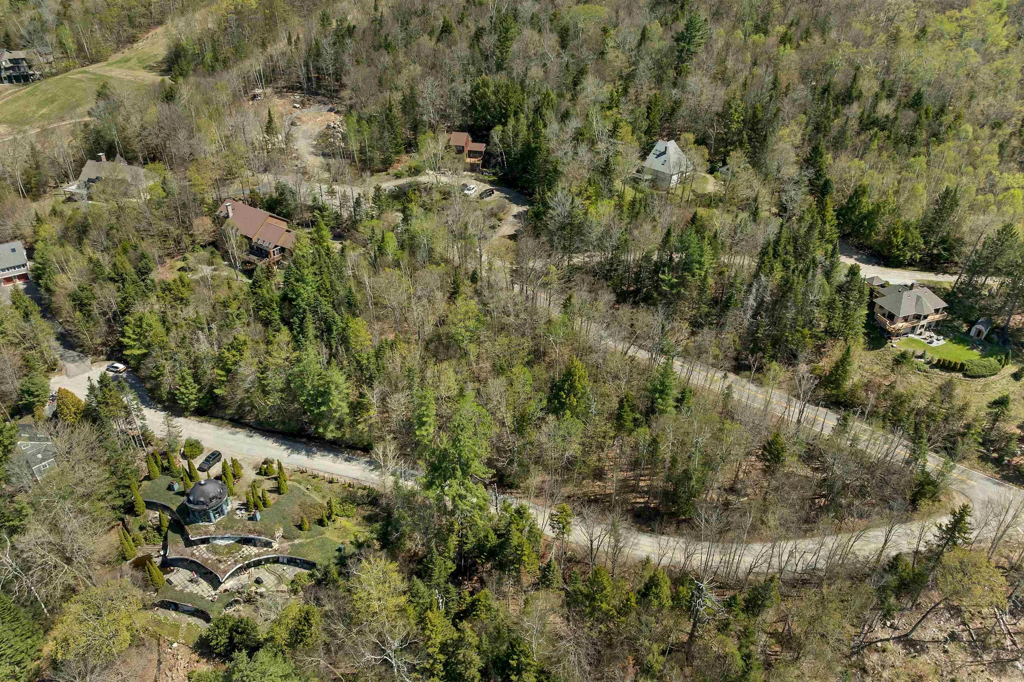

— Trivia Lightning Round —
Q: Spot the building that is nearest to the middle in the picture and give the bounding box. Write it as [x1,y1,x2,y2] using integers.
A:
[449,135,485,163]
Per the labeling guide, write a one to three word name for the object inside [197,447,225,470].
car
